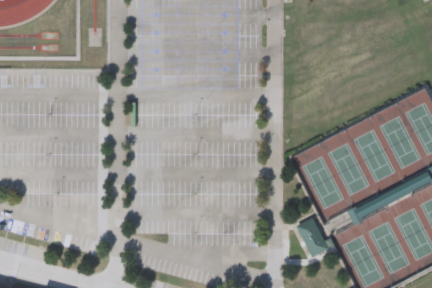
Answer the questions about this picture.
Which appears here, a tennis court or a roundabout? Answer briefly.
tennis court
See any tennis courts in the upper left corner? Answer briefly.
No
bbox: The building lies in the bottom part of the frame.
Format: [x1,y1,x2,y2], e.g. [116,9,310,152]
[298,214,335,256]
